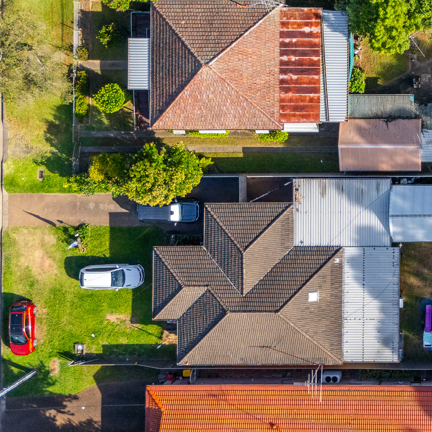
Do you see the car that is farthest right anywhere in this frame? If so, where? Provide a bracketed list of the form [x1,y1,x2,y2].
[134,199,201,227]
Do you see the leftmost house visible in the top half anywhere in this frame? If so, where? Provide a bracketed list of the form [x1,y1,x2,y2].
[128,0,354,134]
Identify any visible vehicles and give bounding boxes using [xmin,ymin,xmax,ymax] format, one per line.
[4,300,36,353]
[80,263,144,292]
[134,199,201,227]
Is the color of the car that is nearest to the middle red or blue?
blue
